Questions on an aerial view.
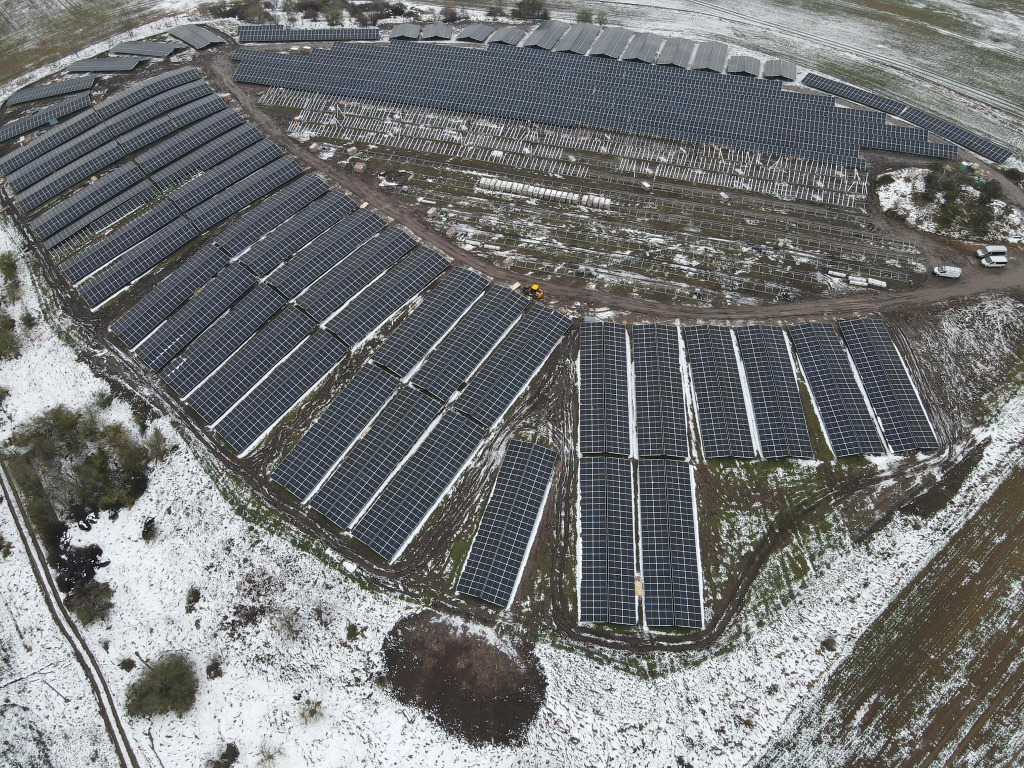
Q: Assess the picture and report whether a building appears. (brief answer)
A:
No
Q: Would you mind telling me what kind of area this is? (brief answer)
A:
solar farm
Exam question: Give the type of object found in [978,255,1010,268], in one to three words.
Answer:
vehicle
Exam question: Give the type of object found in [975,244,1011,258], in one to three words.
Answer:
vehicle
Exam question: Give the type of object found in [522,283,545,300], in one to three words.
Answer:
work vehicle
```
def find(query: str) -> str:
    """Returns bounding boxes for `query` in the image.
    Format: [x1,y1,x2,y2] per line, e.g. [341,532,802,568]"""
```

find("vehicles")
[932,264,964,279]
[975,244,1011,258]
[978,255,1010,268]
[522,283,545,300]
